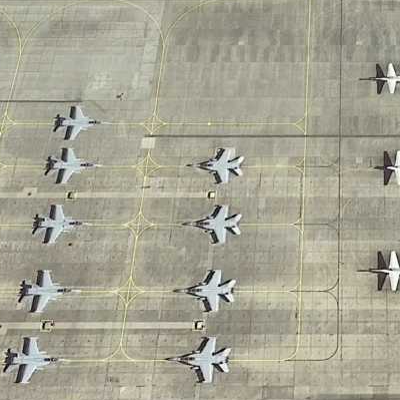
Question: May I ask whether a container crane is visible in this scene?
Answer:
No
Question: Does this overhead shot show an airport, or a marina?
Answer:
airport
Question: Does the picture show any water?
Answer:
No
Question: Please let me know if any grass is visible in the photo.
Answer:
No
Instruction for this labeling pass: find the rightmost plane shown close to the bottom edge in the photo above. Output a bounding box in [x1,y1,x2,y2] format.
[166,338,231,383]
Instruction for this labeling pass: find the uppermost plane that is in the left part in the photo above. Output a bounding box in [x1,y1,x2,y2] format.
[56,107,112,140]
